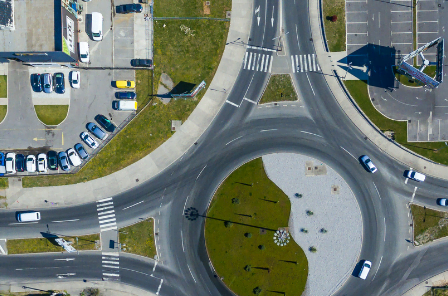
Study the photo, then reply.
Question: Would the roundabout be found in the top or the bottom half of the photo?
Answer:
bottom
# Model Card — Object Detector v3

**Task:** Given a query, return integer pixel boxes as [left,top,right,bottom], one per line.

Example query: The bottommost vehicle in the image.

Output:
[358,259,372,280]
